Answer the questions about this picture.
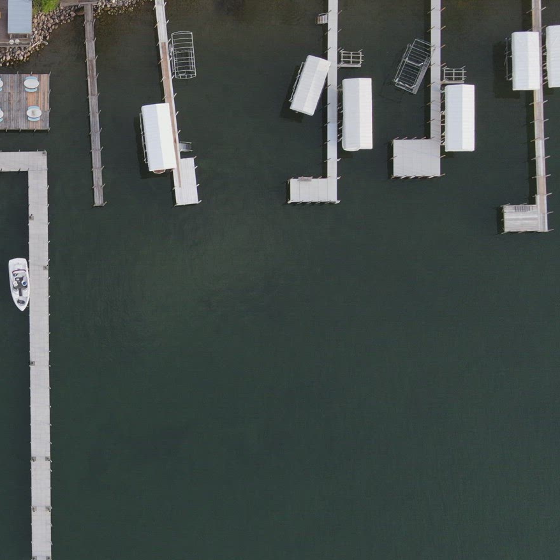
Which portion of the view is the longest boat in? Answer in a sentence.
The longest boat is located in the left region of the scene.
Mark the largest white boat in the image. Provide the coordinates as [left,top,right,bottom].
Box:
[8,257,30,311]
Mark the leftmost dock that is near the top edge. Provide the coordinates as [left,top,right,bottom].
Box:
[83,5,104,207]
